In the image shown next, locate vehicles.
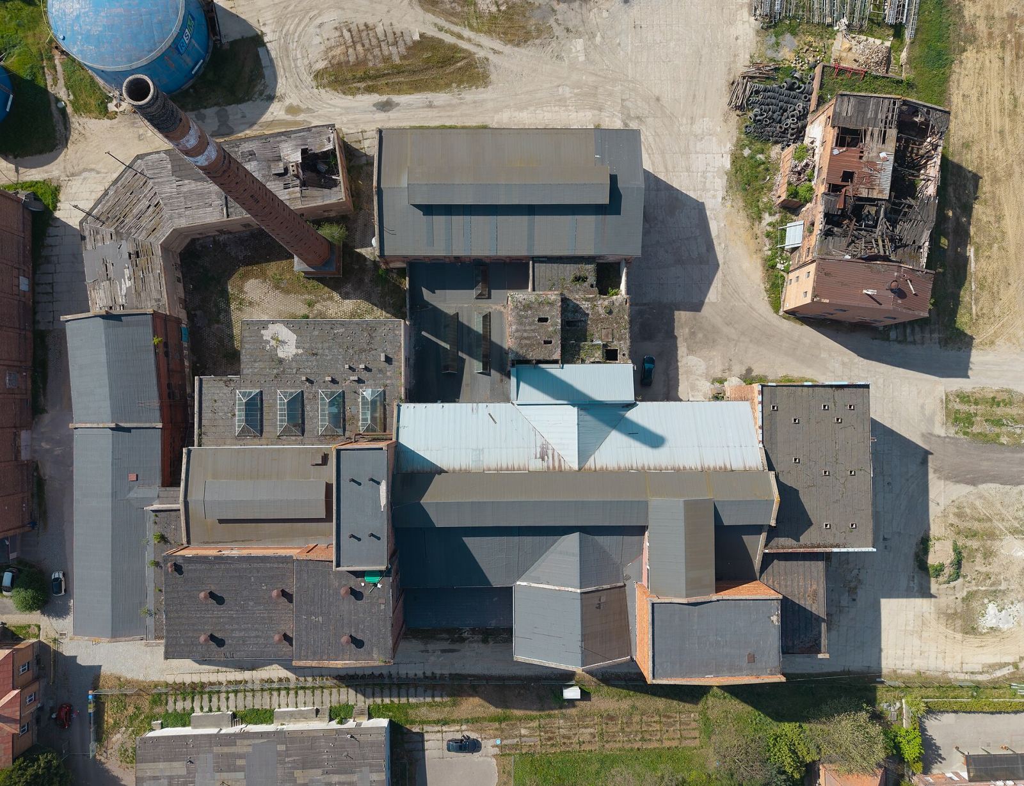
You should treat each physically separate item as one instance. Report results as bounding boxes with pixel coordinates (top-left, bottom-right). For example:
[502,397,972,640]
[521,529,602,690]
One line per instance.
[0,566,19,596]
[50,569,68,596]
[56,701,75,730]
[639,354,655,386]
[447,731,481,753]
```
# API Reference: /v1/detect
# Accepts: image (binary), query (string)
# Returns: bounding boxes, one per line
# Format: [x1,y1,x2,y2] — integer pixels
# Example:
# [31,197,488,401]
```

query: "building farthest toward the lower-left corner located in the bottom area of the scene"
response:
[0,633,55,765]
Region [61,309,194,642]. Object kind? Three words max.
building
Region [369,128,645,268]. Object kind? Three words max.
building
